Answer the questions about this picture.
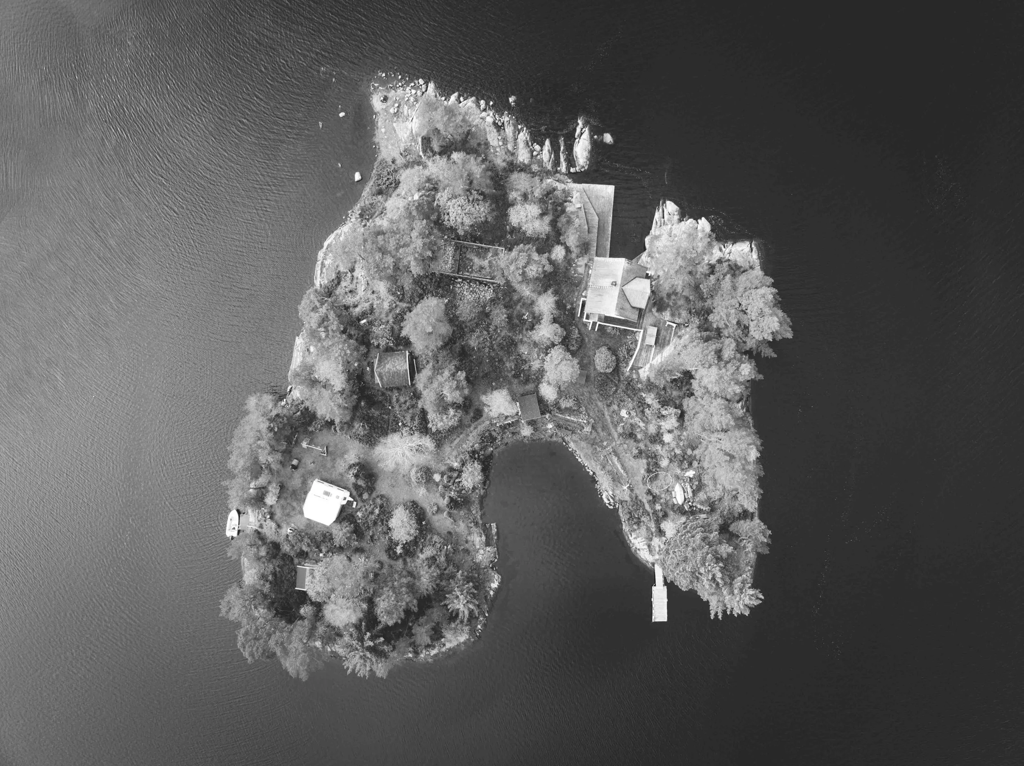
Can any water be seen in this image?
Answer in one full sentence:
Yes, there's water in this view.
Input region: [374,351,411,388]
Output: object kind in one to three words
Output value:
shed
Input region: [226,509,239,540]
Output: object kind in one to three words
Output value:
boat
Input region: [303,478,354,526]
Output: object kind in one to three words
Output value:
house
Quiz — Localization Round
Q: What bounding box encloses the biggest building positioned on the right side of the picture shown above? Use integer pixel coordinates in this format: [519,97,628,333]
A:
[584,257,650,322]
